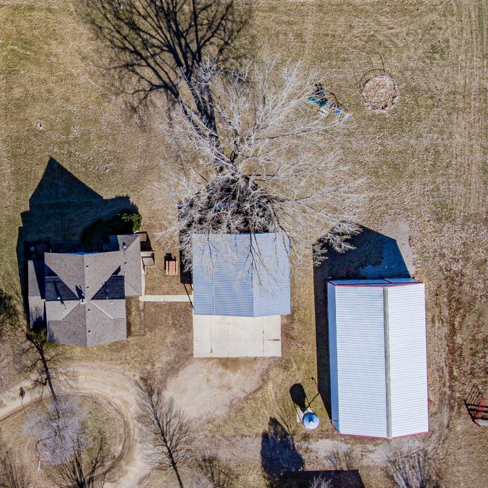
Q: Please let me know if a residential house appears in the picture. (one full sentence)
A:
Yes, the picture does show a residential house.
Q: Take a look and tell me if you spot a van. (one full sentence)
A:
No, no van can be seen from above.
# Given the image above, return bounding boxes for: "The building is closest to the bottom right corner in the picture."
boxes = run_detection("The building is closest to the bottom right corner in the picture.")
[327,277,429,440]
